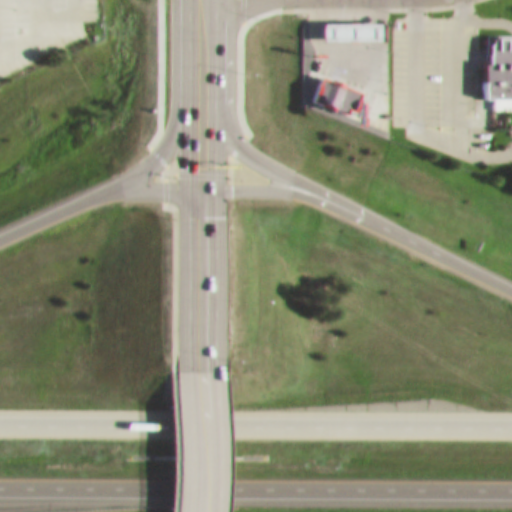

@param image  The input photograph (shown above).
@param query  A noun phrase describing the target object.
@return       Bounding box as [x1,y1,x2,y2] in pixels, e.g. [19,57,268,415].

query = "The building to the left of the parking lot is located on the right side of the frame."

[315,81,362,113]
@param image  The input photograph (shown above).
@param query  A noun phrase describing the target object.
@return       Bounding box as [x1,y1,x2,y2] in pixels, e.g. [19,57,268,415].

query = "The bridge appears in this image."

[172,355,234,512]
